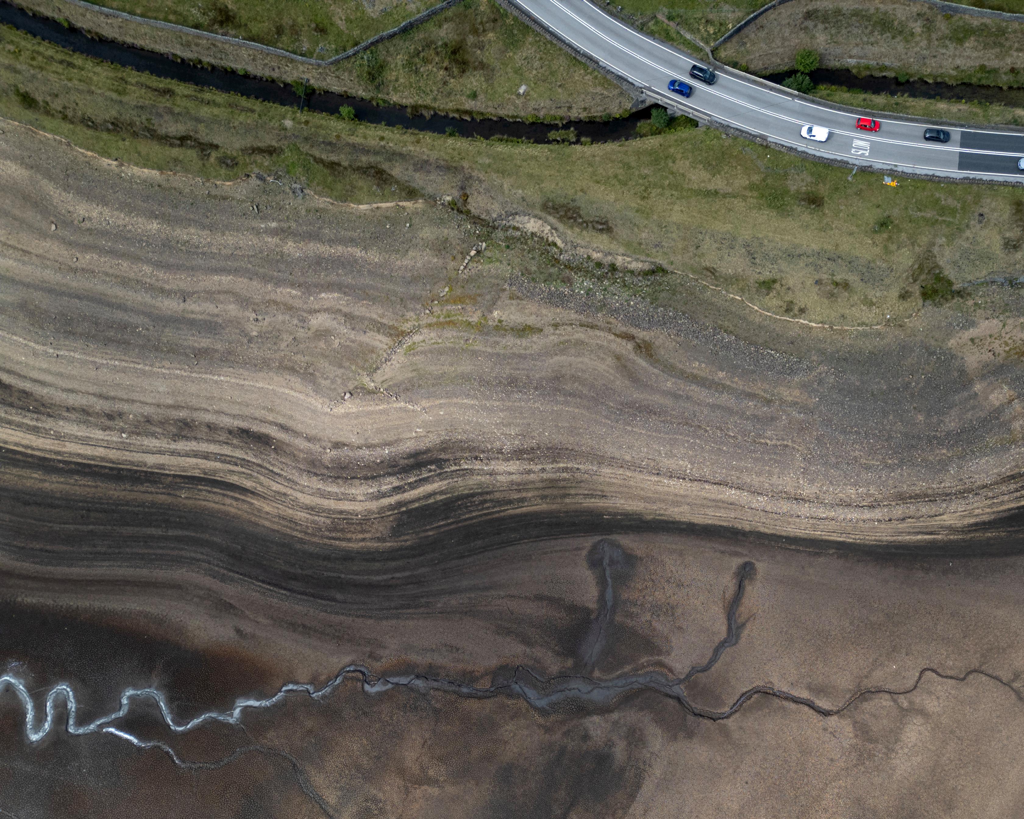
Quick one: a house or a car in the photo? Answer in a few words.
car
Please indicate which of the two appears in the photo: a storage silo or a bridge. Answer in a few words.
bridge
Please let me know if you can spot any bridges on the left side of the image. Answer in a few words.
No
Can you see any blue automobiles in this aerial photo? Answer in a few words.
Yes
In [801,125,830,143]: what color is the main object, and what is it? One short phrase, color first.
white vehicle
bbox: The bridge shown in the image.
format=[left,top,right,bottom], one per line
[635,69,801,125]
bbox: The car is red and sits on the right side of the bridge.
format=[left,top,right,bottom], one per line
[857,117,881,132]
